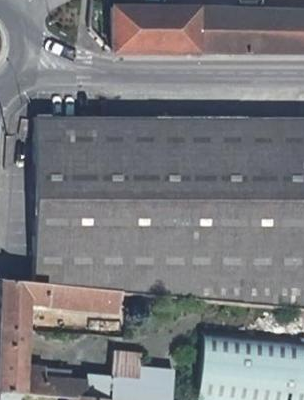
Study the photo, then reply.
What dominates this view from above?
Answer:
buildings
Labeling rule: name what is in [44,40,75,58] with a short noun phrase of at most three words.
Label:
vehicle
